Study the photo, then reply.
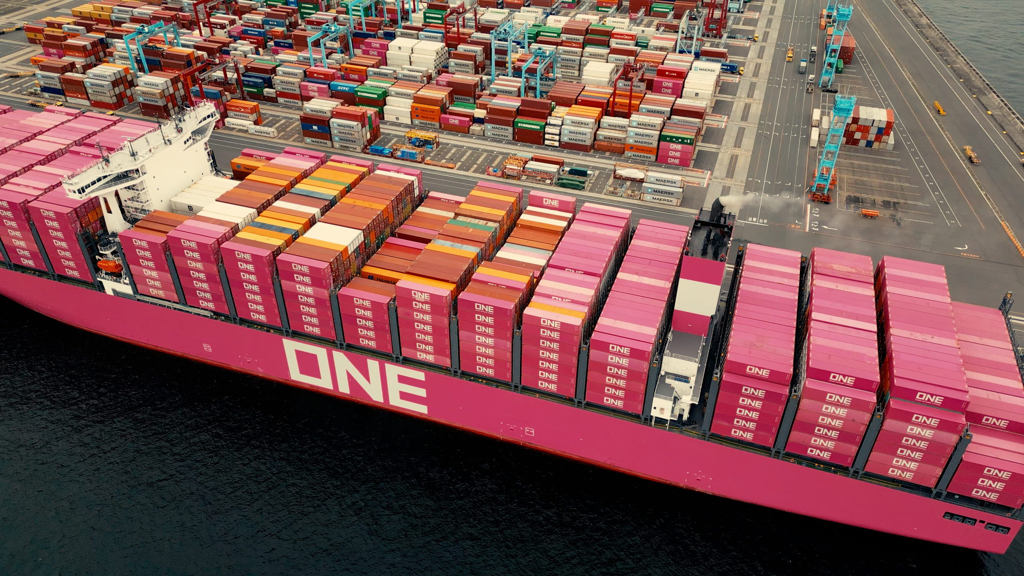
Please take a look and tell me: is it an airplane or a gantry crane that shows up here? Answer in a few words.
gantry crane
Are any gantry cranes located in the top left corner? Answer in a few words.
Yes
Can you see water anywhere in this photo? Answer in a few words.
Yes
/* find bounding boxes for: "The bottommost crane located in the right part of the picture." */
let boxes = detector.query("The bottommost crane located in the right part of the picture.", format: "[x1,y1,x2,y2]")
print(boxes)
[805,92,861,198]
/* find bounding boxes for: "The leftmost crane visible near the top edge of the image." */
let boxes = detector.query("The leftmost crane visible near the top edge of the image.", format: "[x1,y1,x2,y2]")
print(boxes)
[122,20,185,81]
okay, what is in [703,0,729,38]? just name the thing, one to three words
container crane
